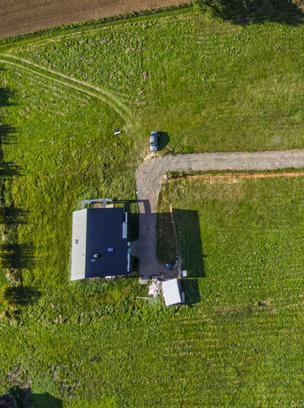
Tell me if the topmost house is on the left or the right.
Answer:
left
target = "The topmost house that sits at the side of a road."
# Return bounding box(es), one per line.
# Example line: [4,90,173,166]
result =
[71,205,136,281]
